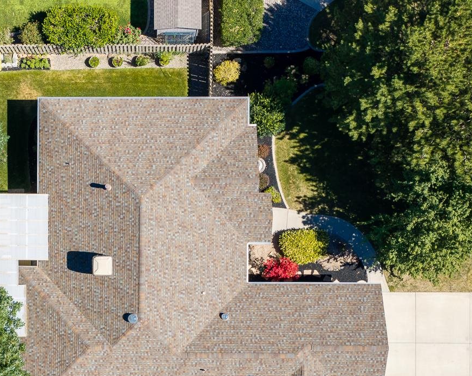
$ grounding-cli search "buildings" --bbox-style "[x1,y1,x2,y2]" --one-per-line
[22,96,390,376]
[153,0,201,39]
